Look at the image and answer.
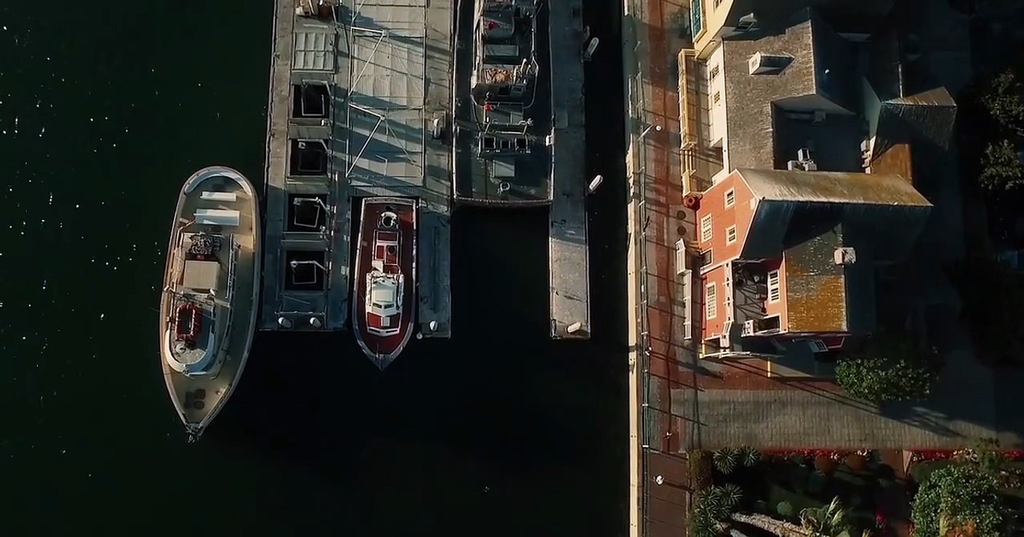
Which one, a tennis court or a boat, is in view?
boat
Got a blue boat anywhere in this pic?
No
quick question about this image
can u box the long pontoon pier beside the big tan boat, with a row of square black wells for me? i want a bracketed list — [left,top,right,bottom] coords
[259,0,351,331]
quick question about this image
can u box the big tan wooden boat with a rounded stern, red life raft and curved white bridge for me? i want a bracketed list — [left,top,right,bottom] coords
[158,166,266,446]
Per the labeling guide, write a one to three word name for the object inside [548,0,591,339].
pier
